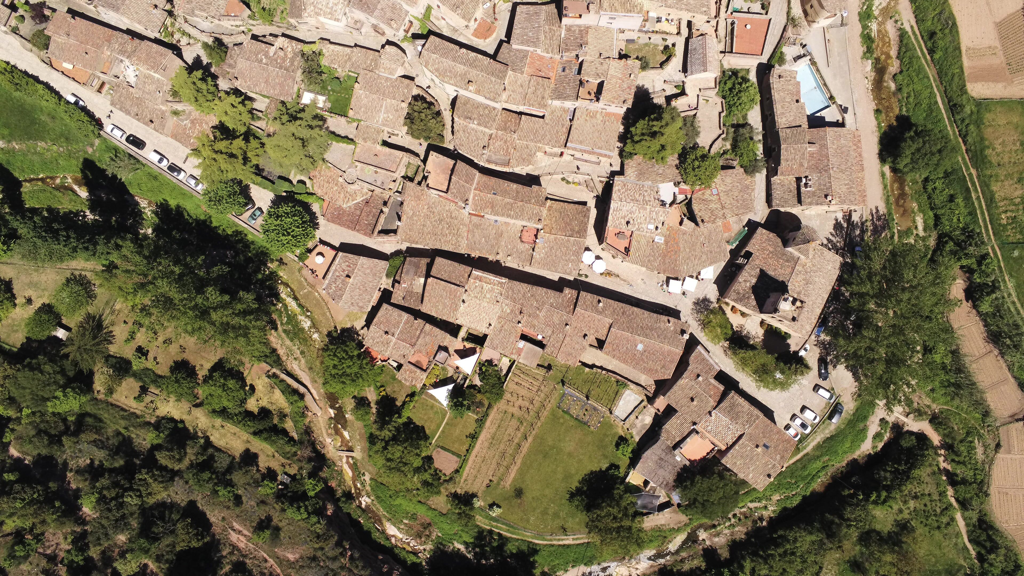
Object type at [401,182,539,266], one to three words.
house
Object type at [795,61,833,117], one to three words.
swimming pool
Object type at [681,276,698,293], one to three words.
umbrella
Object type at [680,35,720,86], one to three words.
building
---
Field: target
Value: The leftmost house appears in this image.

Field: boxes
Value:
[0,4,28,35]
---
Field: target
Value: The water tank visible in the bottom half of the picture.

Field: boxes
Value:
[614,389,643,420]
